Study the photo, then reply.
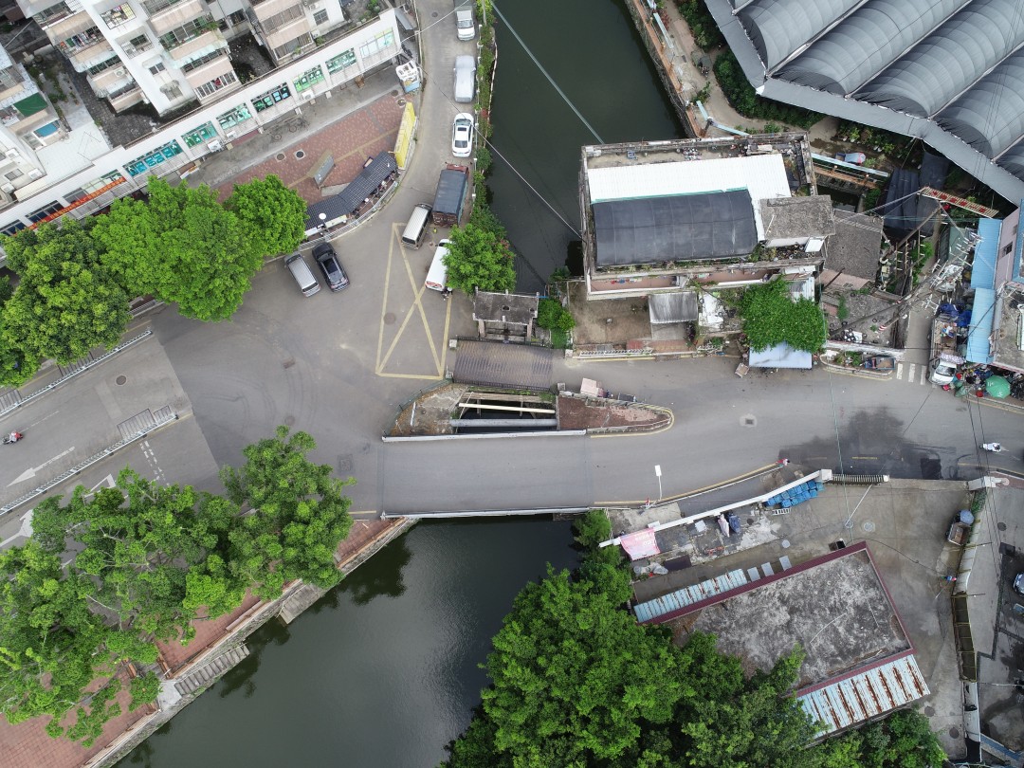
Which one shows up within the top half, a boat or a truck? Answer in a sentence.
It is a truck that can be seen within the top half.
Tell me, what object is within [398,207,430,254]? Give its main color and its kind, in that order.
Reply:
white car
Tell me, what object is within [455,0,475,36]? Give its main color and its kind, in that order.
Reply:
white vehicle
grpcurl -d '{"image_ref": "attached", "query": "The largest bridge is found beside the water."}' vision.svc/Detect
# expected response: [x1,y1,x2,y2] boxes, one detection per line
[379,430,594,521]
